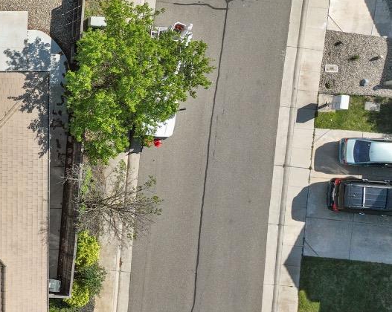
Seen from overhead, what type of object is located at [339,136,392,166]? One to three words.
car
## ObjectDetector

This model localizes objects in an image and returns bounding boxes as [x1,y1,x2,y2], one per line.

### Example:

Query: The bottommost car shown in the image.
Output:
[327,179,392,216]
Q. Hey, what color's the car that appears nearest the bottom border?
black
